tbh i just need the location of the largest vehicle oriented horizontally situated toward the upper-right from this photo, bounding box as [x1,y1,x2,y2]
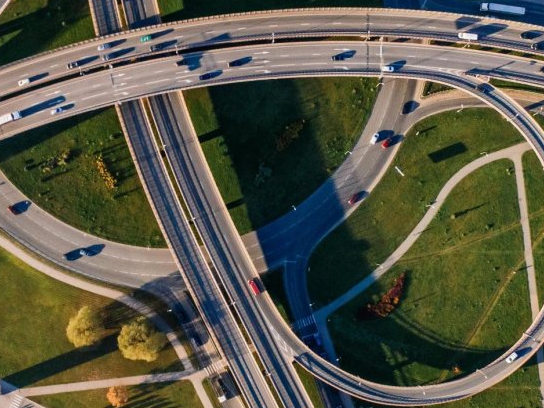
[478,2,526,15]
